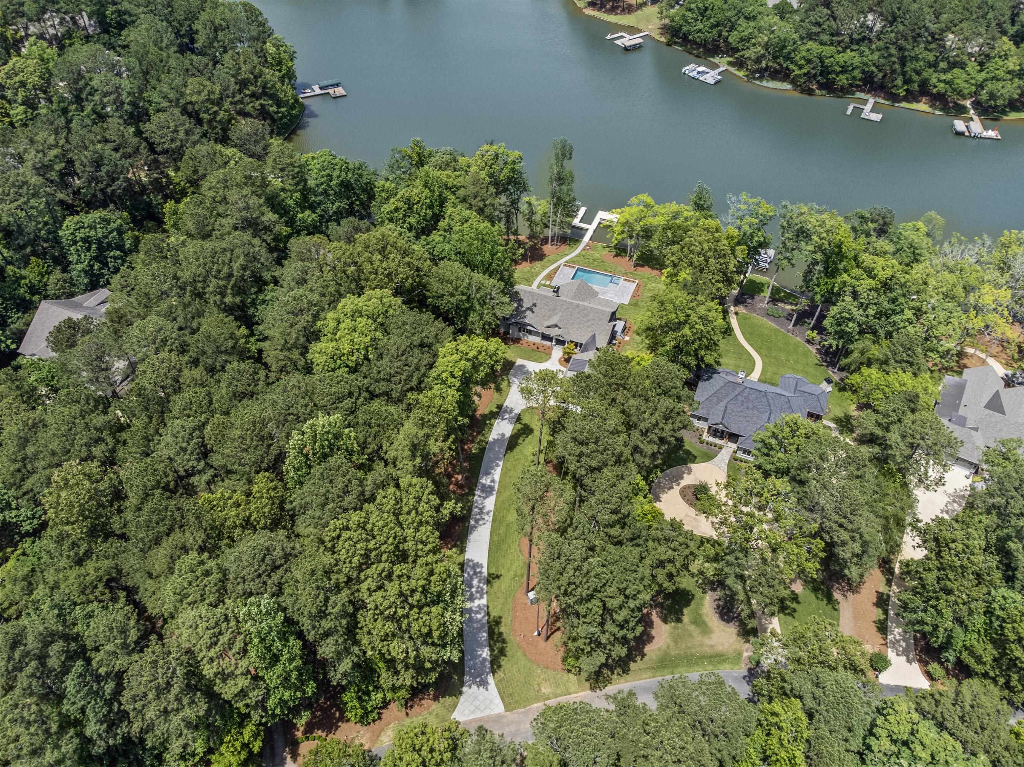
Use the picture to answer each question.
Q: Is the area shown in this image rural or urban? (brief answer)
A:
rural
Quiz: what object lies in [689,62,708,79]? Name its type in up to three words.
boat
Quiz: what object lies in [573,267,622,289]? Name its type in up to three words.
swimming pool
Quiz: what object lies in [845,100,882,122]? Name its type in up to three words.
pier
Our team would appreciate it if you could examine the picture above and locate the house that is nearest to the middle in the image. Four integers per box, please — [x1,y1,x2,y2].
[496,278,630,394]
